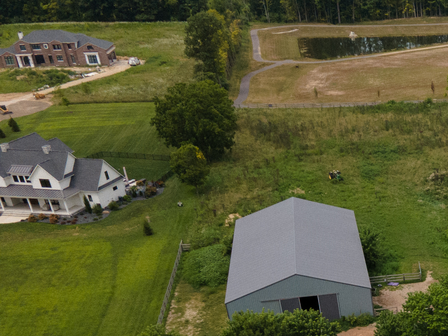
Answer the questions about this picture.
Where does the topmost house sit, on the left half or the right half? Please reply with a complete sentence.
The topmost house is on the left side of the image.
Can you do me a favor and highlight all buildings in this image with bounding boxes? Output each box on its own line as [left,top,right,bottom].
[0,25,127,68]
[0,129,126,218]
[225,197,374,332]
